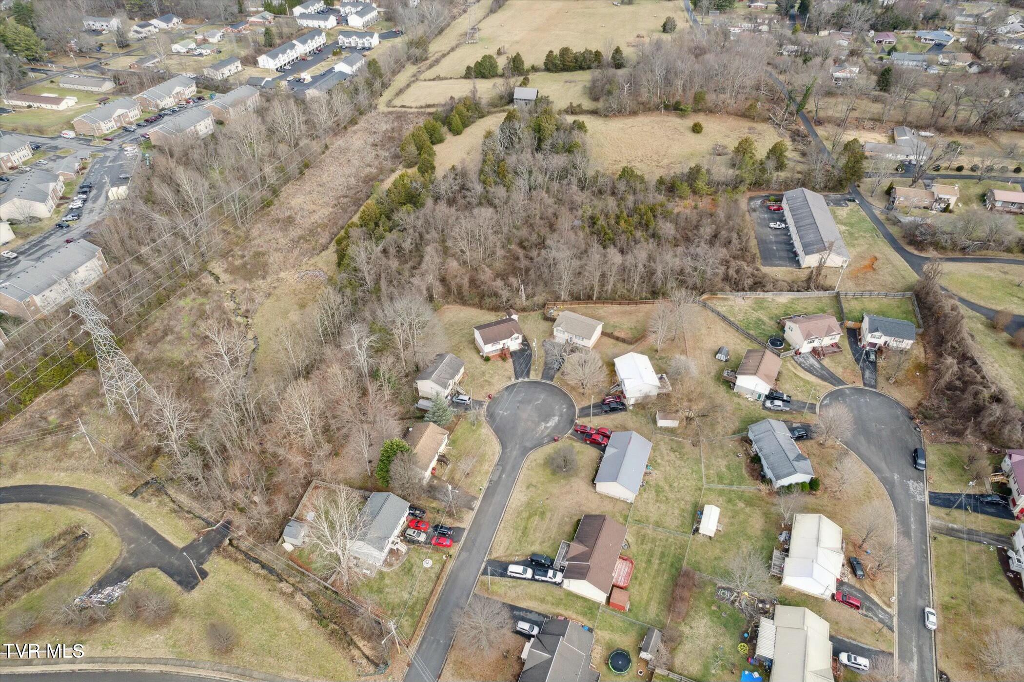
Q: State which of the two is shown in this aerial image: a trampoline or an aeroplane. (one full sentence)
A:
Looking from above, you can make out a trampoline.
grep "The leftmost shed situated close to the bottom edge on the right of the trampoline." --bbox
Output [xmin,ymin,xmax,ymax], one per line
[641,627,663,662]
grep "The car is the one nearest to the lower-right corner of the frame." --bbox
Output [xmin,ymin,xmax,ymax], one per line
[924,605,938,631]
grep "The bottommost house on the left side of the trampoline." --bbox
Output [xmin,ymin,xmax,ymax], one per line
[510,616,594,682]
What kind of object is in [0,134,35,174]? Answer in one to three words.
building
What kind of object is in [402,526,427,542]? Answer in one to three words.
car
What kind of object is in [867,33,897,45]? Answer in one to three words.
house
